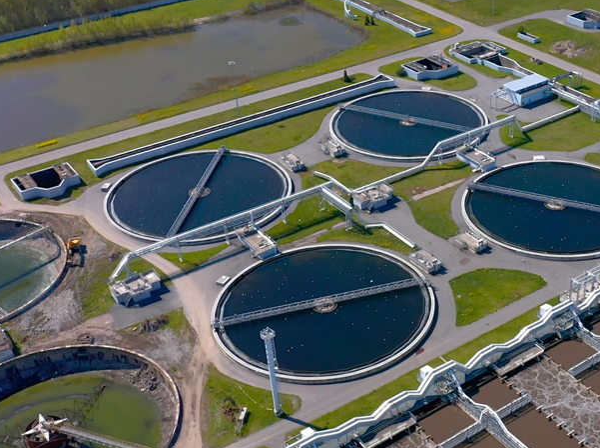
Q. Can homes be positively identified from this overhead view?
Yes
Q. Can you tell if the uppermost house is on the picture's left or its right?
right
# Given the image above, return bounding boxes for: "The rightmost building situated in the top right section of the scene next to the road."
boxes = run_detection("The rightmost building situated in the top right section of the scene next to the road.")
[498,68,553,106]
